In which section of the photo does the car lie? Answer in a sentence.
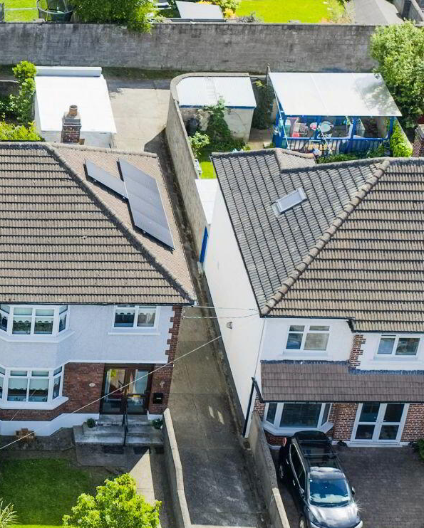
The car is in the bottom right part of the image.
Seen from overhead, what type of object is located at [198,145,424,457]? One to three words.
house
